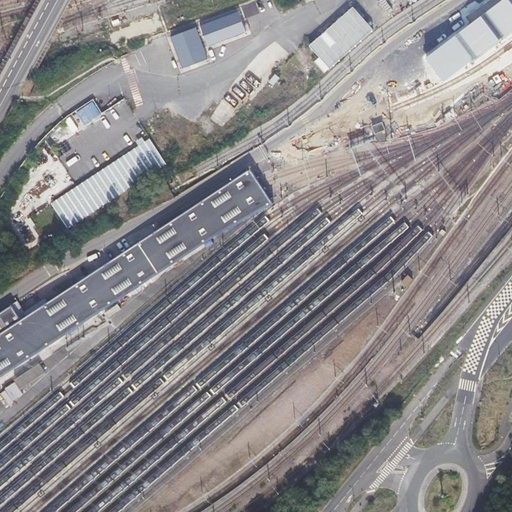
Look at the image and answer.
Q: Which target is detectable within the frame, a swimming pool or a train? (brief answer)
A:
train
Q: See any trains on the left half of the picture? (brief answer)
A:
Yes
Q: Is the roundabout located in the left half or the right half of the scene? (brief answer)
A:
right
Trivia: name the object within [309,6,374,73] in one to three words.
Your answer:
building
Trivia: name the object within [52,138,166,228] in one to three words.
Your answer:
shed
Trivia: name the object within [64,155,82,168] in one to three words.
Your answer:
vehicle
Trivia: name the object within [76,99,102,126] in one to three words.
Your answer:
building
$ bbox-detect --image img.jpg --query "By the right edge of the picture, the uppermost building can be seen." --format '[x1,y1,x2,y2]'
[426,0,512,80]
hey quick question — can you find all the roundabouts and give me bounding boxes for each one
[332,385,496,512]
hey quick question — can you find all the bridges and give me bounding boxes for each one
[0,0,70,128]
